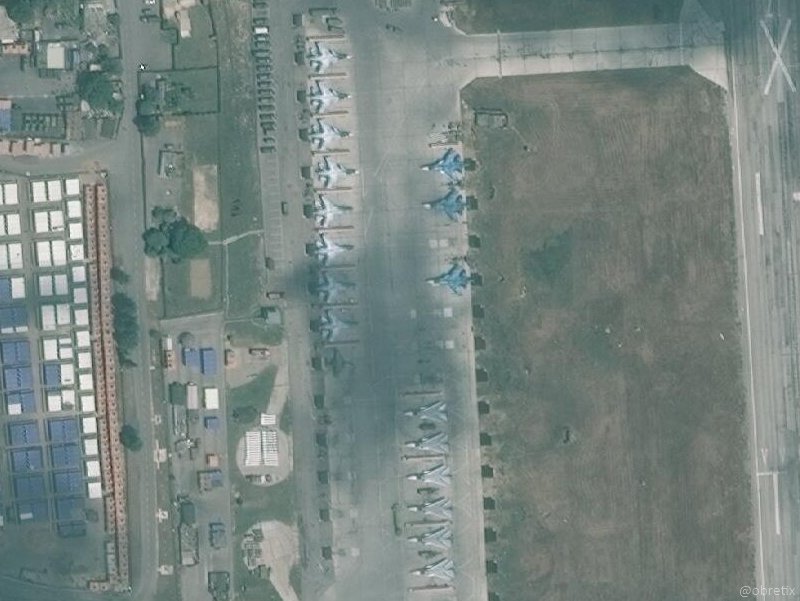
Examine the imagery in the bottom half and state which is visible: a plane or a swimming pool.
plane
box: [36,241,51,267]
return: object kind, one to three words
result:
shed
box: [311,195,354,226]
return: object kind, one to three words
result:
airplane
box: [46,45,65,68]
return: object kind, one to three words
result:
house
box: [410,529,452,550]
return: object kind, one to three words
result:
airplane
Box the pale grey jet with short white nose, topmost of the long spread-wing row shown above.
[308,41,350,73]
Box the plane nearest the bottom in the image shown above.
[409,561,455,582]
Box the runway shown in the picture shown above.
[728,0,800,601]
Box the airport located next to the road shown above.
[253,0,800,601]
